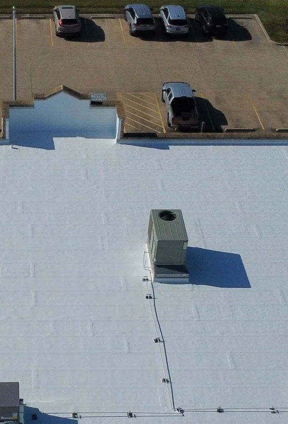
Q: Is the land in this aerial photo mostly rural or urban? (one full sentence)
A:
The area is urban.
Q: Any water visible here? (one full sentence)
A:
No, water can't be seen anywhere here.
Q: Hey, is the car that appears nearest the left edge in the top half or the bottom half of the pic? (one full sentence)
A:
Seen from above, the car that appears nearest the left edge lies in the top half of the view.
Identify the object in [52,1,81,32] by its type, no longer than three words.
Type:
car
